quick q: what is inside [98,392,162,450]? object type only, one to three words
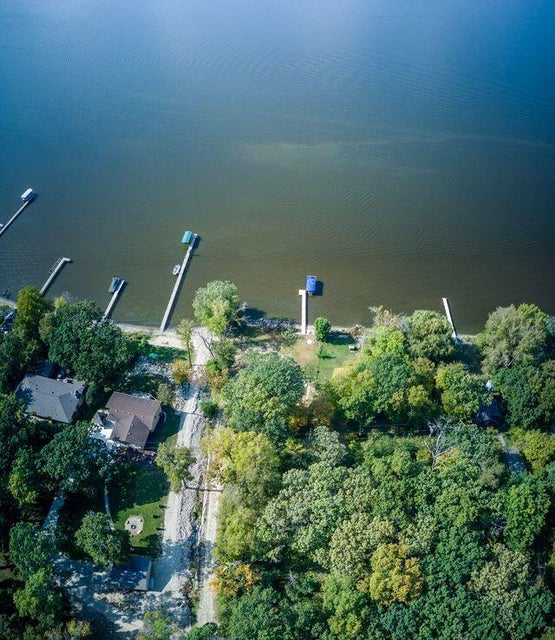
house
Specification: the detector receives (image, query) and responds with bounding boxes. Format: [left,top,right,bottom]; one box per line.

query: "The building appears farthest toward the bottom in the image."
[114,554,152,591]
